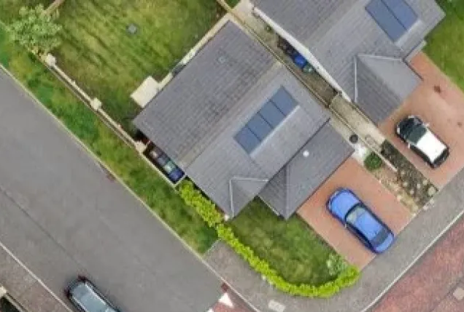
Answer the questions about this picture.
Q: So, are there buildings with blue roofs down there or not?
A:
No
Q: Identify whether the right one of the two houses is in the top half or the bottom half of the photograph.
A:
top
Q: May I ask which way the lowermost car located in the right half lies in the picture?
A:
on a diagonal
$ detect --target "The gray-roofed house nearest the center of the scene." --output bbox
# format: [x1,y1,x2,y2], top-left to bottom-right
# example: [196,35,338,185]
[134,18,355,220]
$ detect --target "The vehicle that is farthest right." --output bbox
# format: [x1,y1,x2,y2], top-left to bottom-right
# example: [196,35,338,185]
[393,111,455,172]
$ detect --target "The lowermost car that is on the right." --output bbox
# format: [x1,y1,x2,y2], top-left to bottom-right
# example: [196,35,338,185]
[327,184,396,257]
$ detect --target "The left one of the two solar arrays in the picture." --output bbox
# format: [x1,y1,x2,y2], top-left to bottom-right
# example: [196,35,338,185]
[233,86,303,158]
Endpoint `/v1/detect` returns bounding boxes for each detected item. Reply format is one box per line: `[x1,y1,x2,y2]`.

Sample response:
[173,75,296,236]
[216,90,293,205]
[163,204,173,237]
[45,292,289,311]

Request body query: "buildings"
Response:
[134,18,355,220]
[250,0,448,127]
